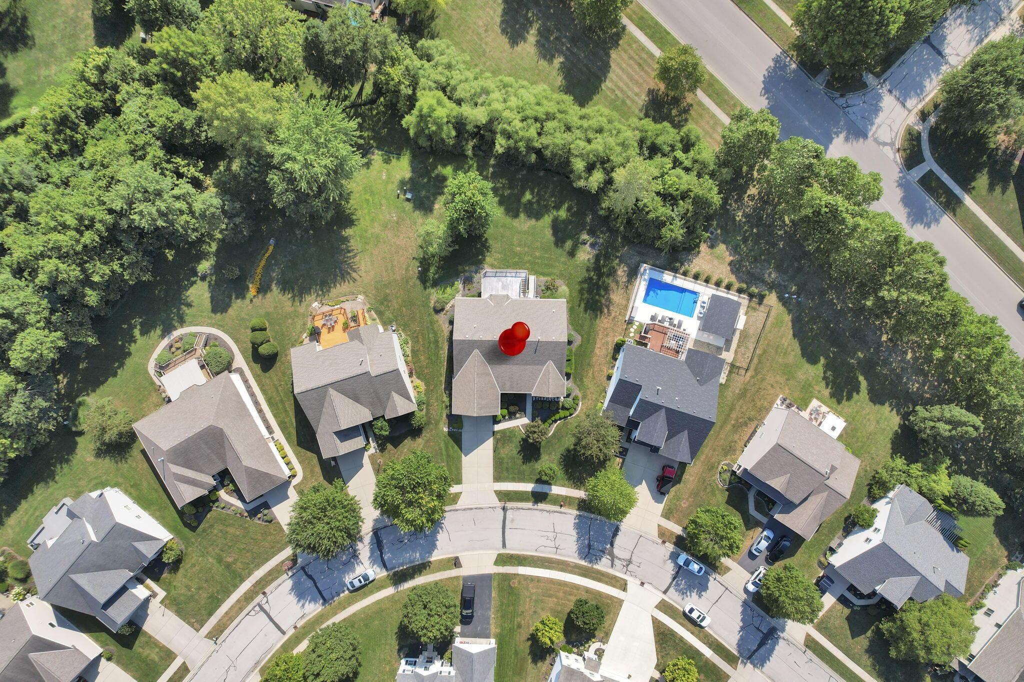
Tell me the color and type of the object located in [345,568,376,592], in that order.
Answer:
white car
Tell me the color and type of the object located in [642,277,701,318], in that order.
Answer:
blue swimming pool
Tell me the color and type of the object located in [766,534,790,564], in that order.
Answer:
black car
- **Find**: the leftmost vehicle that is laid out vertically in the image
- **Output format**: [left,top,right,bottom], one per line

[460,583,475,622]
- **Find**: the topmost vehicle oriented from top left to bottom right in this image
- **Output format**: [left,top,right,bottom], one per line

[675,552,706,578]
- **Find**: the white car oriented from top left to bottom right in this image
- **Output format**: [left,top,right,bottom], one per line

[681,602,710,628]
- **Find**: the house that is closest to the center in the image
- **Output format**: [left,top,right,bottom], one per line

[452,294,568,417]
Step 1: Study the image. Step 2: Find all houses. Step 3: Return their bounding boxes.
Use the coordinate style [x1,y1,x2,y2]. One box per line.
[452,294,568,417]
[737,409,861,541]
[827,488,973,616]
[291,324,418,458]
[950,555,1024,682]
[551,653,625,682]
[603,343,725,464]
[132,370,292,508]
[29,489,175,632]
[0,596,102,682]
[396,638,496,682]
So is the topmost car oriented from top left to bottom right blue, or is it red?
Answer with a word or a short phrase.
blue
